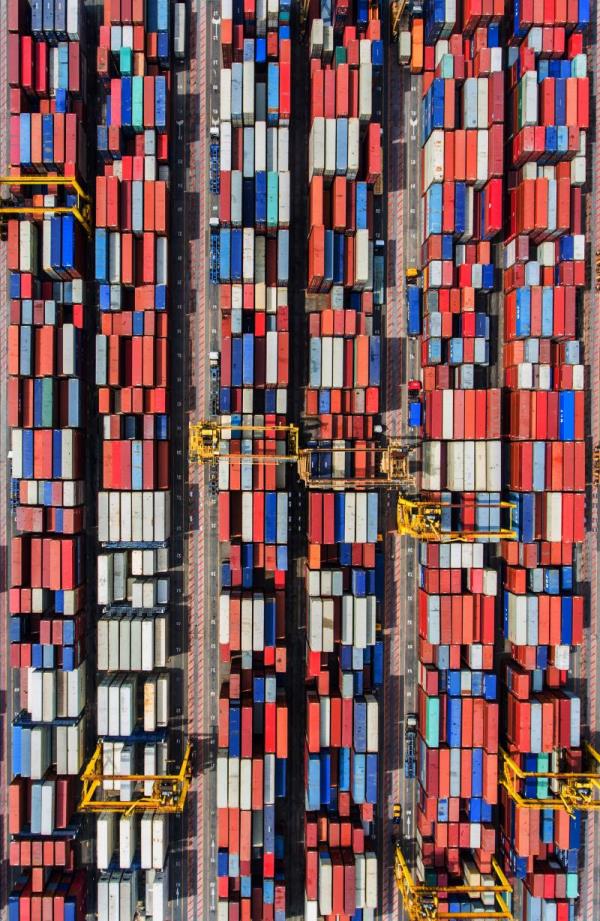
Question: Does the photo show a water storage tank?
No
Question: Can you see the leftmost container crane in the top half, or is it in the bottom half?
top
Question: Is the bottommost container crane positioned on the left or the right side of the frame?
right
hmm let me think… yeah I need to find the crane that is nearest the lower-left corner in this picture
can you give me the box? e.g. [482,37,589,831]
[80,733,199,829]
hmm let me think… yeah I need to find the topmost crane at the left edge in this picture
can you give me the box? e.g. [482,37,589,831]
[0,177,97,247]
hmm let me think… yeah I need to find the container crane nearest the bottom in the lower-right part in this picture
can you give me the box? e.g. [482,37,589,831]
[391,833,516,921]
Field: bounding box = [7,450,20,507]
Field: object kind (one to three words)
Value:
vehicle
